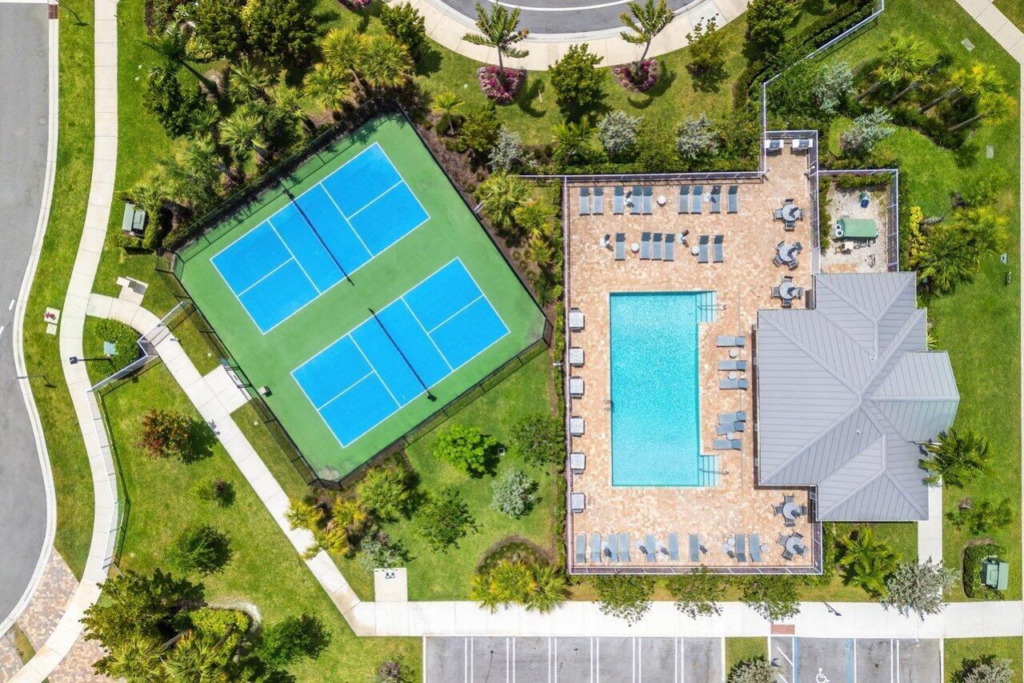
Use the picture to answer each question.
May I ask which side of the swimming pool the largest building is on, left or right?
to its right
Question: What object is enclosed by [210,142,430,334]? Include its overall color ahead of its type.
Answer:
blue sports court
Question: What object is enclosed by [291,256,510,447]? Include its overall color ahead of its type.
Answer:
blue sports court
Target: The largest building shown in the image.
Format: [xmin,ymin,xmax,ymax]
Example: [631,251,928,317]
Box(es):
[753,271,959,523]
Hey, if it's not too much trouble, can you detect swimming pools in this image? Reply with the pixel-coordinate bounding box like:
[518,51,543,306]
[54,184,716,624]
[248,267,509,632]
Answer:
[601,288,726,490]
